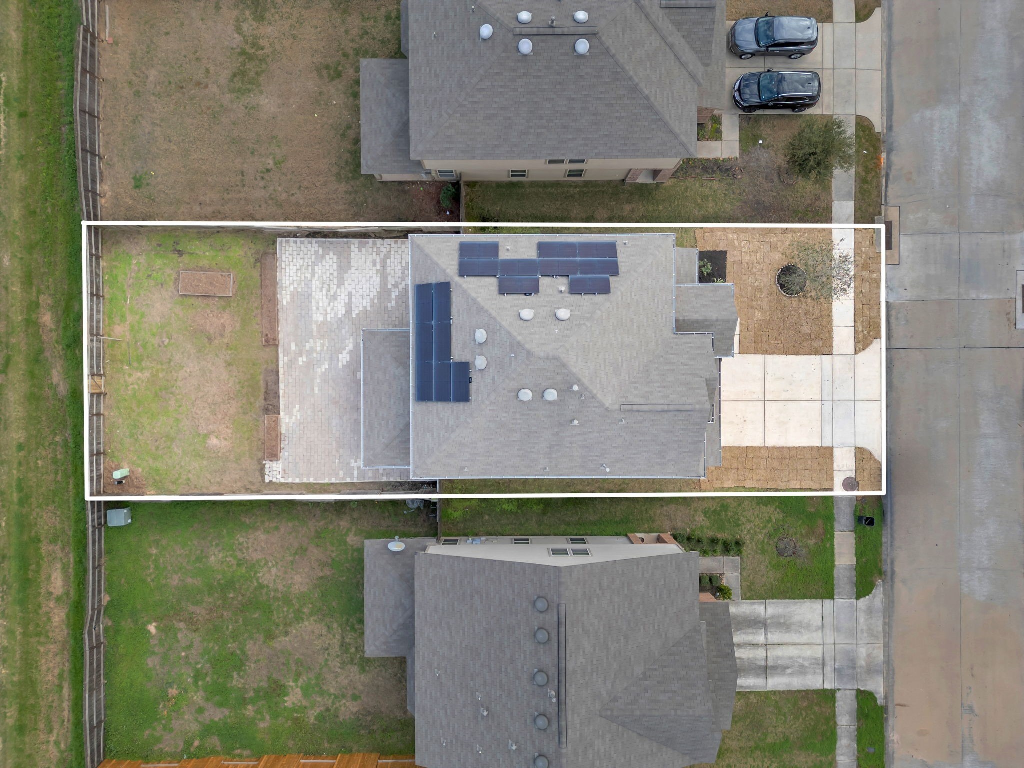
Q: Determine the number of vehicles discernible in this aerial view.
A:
two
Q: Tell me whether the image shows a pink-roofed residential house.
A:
No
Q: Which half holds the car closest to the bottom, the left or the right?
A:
right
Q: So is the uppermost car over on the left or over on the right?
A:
right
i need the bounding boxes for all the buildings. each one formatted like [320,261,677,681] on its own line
[359,0,727,185]
[363,532,738,768]
[361,233,737,480]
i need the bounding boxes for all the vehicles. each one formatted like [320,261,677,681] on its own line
[732,64,822,113]
[728,9,819,59]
